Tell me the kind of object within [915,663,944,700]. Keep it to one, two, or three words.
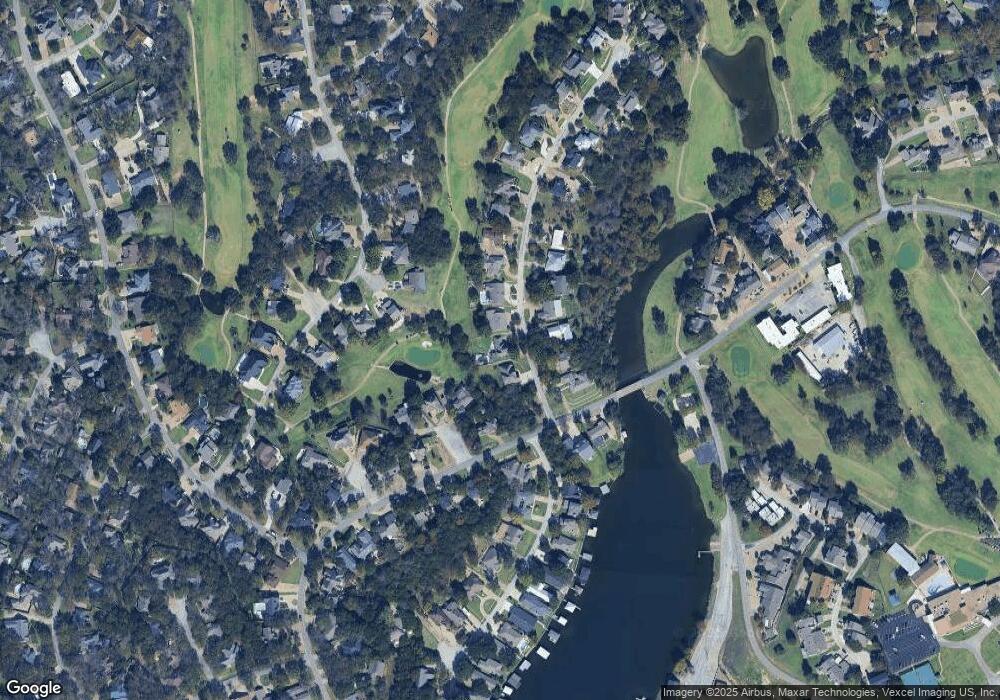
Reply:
tennis court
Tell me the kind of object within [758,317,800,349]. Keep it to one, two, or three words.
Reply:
building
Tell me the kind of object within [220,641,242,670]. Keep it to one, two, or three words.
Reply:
house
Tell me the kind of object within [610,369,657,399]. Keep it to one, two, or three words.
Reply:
bridge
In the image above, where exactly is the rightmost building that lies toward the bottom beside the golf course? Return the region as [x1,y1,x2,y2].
[930,572,1000,638]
